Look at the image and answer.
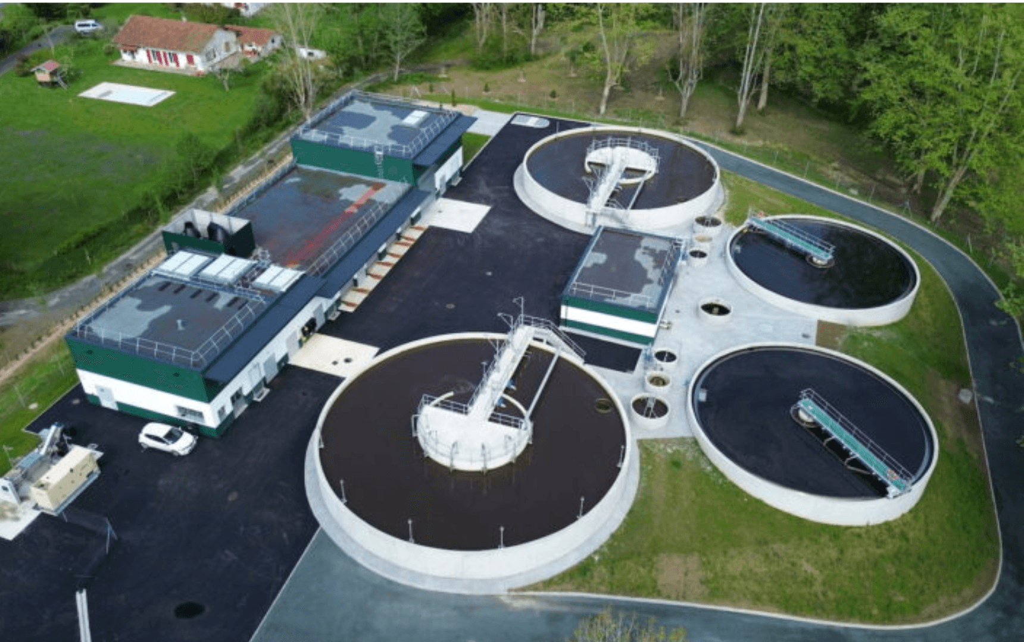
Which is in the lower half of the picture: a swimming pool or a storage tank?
storage tank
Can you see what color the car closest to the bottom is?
white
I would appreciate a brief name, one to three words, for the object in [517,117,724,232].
storage tank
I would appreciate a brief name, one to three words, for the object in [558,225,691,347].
building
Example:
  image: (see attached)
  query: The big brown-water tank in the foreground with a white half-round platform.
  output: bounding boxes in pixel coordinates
[305,297,640,591]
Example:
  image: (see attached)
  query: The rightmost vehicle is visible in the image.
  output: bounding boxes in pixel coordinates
[132,421,193,456]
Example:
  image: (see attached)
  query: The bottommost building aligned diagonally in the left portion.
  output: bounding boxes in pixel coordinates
[59,91,480,438]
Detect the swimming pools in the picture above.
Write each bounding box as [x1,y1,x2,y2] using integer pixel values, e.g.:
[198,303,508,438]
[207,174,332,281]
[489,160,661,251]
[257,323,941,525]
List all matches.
[78,81,176,106]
